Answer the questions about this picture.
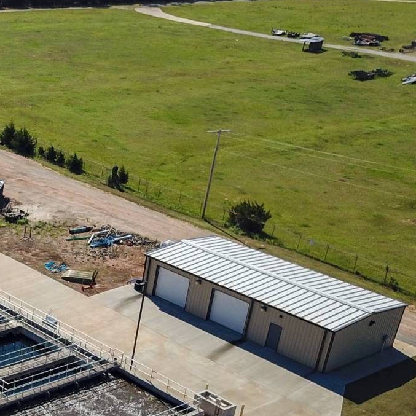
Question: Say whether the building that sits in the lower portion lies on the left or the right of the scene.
right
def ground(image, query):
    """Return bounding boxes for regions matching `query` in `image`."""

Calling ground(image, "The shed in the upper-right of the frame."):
[300,37,333,52]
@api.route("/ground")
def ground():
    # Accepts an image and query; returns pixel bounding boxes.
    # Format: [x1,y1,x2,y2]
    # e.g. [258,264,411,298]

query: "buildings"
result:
[137,232,406,376]
[300,37,333,52]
